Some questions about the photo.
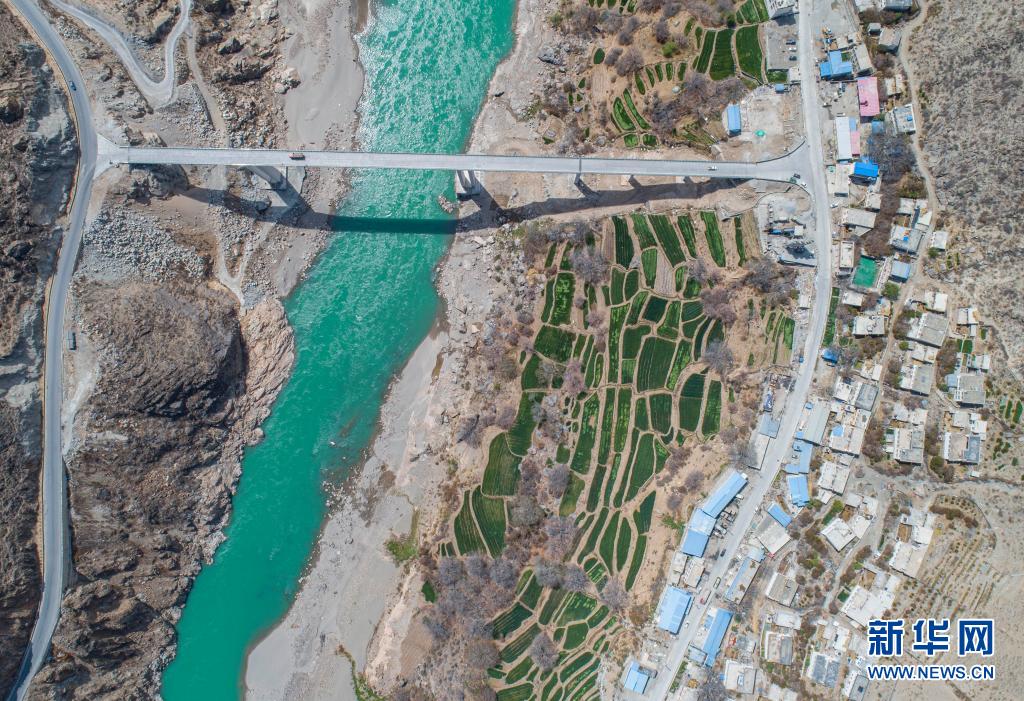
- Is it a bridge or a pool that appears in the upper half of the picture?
bridge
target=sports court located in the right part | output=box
[850,255,878,288]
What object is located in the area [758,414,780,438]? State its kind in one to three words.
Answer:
shed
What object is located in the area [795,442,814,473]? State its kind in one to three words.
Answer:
building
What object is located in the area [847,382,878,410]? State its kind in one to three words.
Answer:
house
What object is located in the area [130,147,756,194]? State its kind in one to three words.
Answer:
bridge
